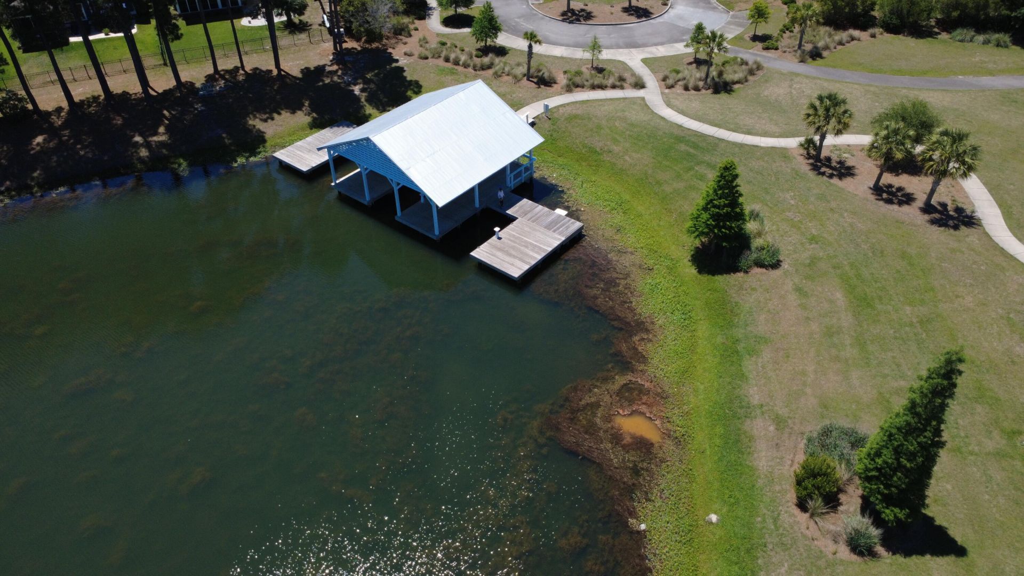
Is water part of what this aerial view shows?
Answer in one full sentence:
Yes, there's water in this view.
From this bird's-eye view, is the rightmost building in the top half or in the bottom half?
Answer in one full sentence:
The rightmost building sits in the top half of the picture.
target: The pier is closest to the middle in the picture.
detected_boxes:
[470,198,584,289]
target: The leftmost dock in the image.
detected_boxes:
[273,121,372,177]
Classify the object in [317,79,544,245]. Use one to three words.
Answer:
building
